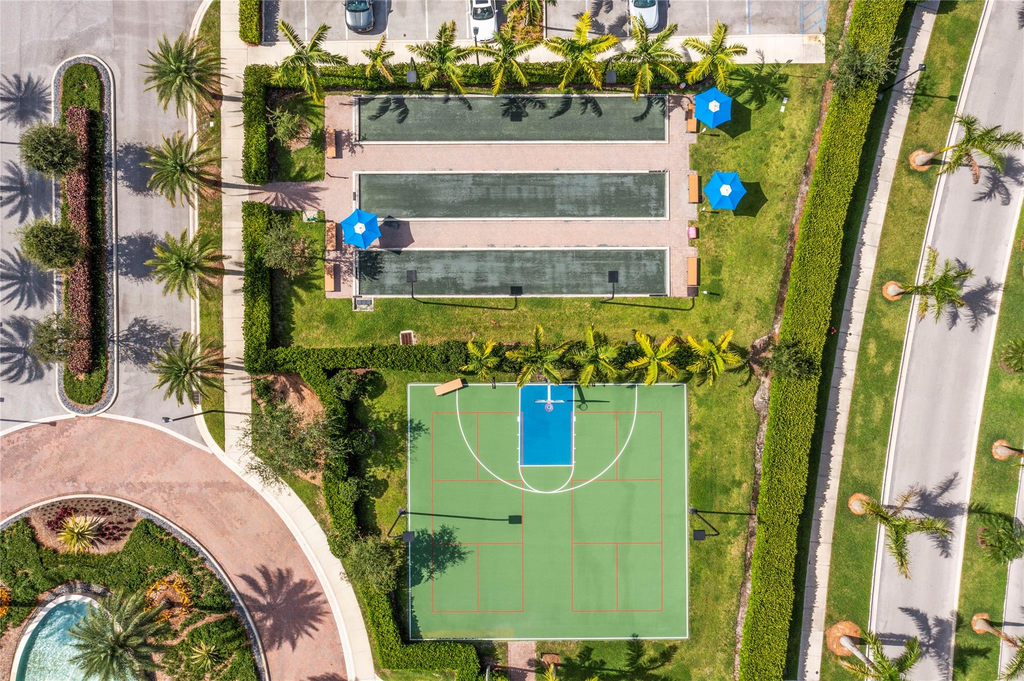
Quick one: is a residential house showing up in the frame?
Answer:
No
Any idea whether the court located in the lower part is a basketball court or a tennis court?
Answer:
basketball court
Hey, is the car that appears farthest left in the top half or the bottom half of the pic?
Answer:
top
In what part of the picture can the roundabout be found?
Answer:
bottom left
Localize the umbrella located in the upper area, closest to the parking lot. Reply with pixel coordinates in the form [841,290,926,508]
[693,87,731,131]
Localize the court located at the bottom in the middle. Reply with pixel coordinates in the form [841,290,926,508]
[407,382,691,643]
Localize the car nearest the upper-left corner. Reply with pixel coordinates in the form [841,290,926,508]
[336,0,372,33]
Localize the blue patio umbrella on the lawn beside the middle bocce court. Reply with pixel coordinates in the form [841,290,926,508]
[701,172,745,211]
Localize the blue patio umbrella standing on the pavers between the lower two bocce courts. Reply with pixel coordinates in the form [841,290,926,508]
[341,208,382,251]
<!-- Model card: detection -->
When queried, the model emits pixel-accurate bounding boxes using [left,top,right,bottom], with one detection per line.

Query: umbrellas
[693,87,731,131]
[701,172,745,211]
[341,208,382,251]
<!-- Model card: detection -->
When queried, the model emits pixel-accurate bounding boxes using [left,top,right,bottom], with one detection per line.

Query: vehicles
[336,0,372,33]
[466,0,501,45]
[629,0,664,32]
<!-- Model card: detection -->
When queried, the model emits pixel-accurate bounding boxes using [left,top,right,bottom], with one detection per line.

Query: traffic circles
[0,413,347,681]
